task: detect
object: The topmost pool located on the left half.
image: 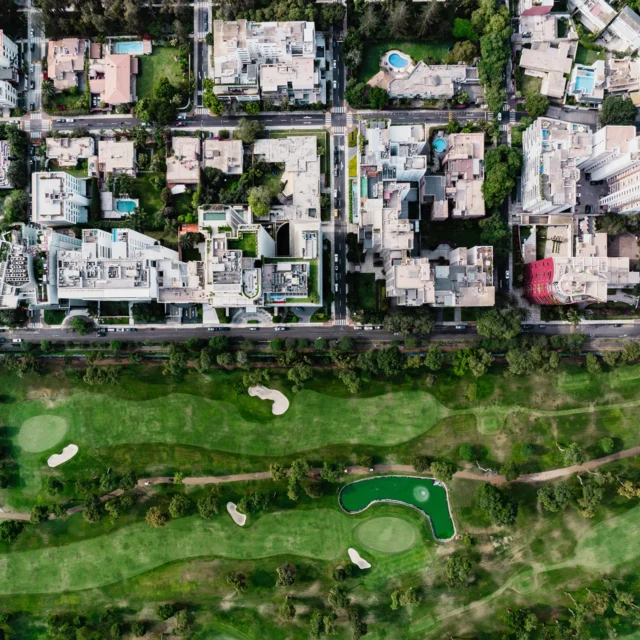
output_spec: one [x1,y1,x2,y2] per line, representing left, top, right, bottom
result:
[116,40,144,53]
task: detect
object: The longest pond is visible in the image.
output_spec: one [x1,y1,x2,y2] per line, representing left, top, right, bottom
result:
[338,475,455,542]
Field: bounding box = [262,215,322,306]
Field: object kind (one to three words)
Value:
building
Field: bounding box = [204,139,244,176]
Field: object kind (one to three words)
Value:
house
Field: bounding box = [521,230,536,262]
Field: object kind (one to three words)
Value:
house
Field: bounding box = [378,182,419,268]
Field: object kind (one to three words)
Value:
building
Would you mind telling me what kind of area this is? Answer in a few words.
golf course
